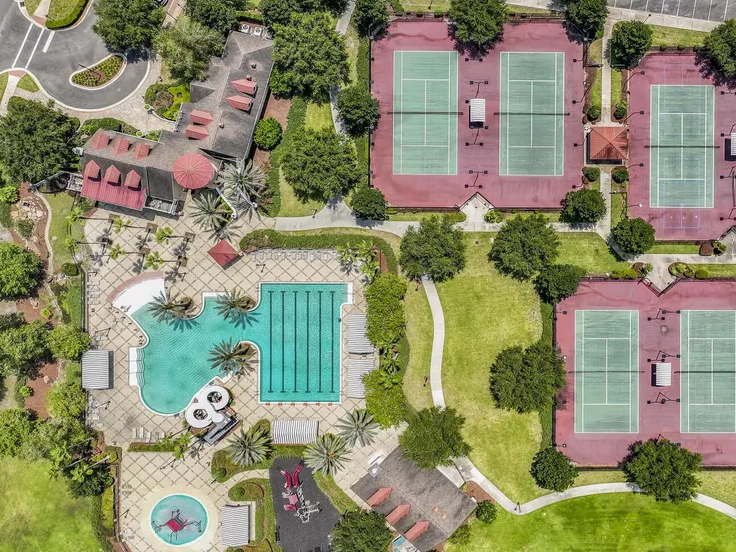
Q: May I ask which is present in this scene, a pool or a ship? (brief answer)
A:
pool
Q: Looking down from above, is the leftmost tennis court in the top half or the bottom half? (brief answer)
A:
top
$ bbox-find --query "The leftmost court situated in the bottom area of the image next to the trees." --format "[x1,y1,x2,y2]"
[555,279,660,467]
